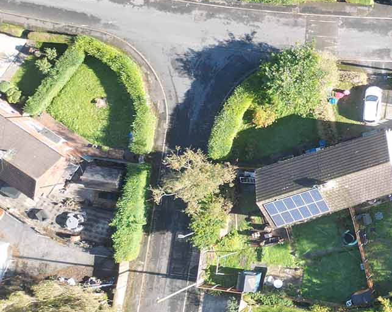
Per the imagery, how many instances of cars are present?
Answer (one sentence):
I count just 1 car.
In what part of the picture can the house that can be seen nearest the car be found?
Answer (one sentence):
The house that can be seen nearest the car is in the right part of the image.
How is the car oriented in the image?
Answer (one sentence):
In this picture, the car lies up and down.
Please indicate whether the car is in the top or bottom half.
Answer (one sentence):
The car is in the top half of the image.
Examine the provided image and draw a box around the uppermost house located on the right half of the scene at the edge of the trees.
[255,129,392,230]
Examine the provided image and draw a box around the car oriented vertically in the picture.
[363,85,384,125]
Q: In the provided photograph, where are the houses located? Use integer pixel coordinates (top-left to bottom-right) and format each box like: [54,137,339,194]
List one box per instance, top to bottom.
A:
[0,104,91,201]
[255,129,392,230]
